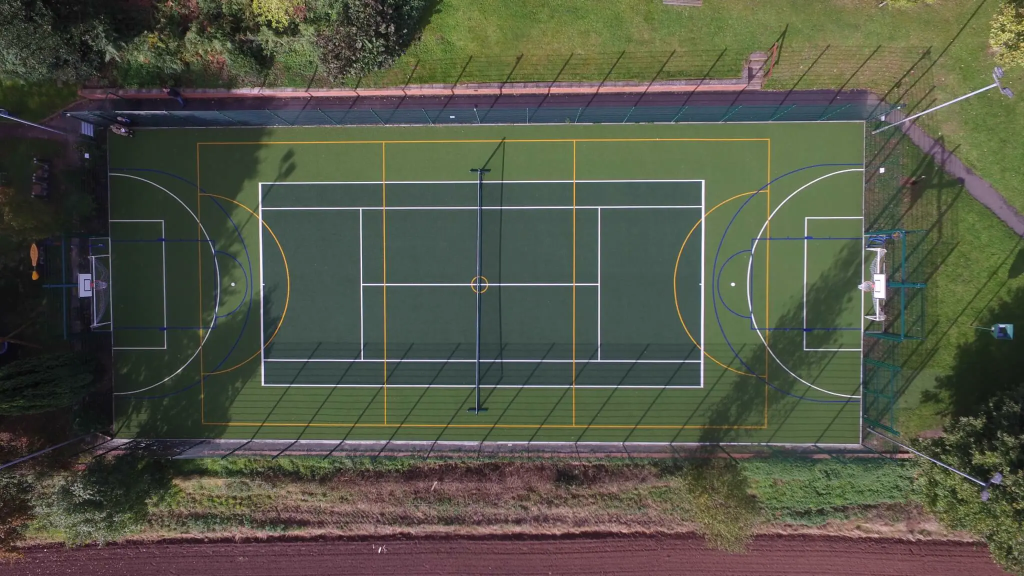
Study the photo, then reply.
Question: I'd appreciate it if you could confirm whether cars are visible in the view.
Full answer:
No, no car can be seen from above.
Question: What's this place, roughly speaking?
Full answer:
This image shows a sports ground.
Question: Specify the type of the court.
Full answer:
The court is a tennis court.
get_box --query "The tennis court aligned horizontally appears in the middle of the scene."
[259,179,705,388]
